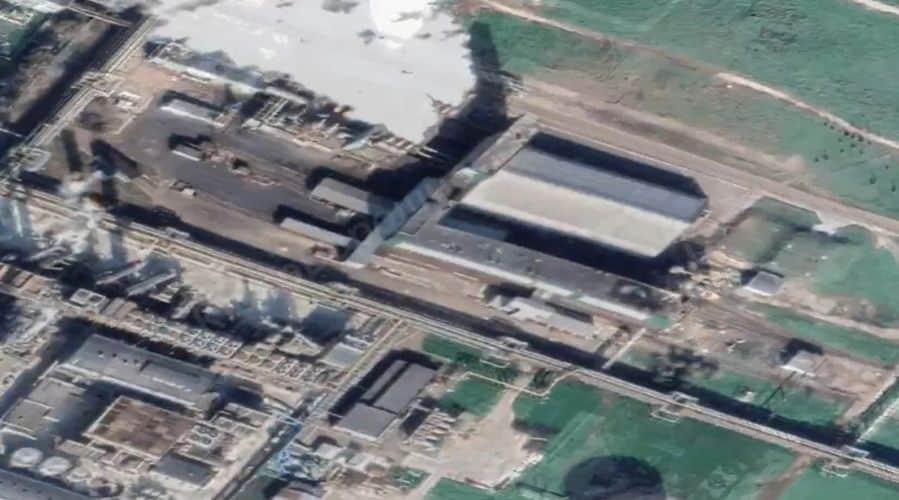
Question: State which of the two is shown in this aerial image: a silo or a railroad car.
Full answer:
The image shows a silo.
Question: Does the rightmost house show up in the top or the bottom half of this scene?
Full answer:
The rightmost house is in the bottom half of the image.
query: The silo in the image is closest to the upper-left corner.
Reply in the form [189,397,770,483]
[68,173,88,196]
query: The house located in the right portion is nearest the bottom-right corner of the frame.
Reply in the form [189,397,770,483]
[781,349,823,375]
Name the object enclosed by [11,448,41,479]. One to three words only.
storage tank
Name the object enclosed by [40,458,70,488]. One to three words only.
storage tank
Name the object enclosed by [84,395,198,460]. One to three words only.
building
